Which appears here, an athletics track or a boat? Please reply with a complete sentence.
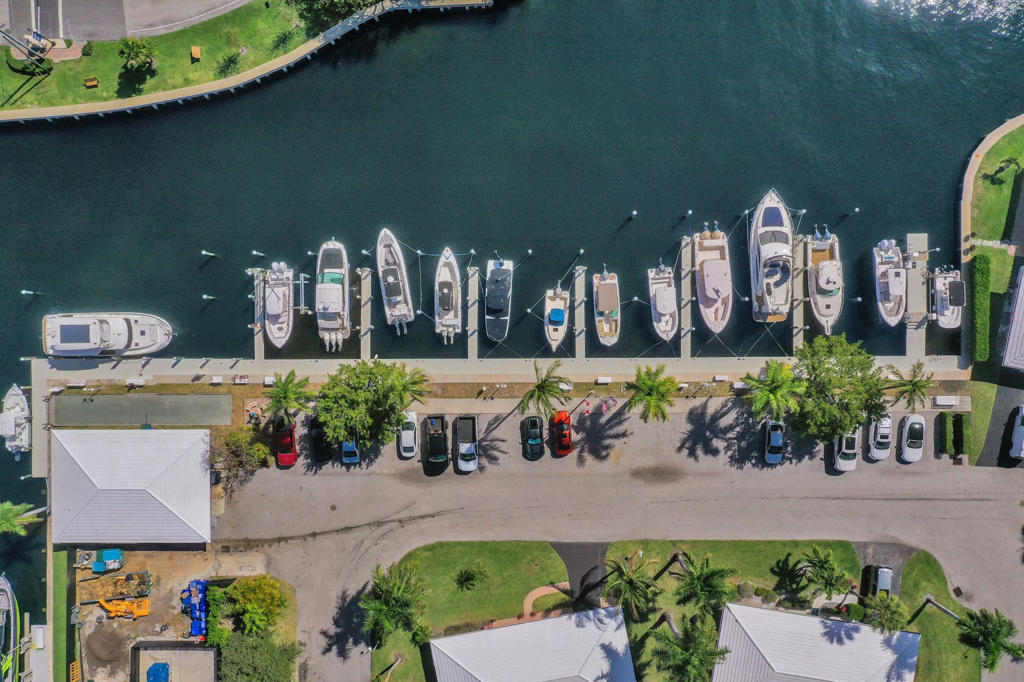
I can see a boat in this picture.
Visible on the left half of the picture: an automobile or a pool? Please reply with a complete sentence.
Visible on the left half of the picture is an automobile.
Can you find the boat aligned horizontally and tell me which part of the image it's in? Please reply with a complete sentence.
Look in the left portion of the view to spot the boat aligned horizontally.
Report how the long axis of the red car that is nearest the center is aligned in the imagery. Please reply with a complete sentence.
I'd say the red car that is nearest the center is aligned up and down in the picture.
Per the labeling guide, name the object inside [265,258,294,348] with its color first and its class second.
white boat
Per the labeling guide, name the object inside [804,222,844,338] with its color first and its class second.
white boat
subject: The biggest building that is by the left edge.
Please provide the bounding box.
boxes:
[50,428,213,545]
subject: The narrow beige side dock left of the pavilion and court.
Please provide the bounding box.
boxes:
[31,359,48,476]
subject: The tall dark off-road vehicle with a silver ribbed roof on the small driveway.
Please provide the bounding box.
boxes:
[866,556,893,598]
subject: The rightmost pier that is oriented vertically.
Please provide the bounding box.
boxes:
[905,234,928,358]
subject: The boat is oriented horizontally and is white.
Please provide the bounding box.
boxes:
[45,314,179,357]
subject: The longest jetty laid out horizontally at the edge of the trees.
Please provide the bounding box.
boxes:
[47,358,971,380]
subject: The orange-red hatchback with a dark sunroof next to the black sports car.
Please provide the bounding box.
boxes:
[551,409,574,456]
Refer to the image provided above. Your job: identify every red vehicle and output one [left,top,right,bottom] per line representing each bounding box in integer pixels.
[273,421,298,468]
[551,409,574,456]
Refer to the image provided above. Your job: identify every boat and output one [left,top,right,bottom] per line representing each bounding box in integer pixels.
[747,188,794,323]
[931,260,966,329]
[694,216,732,335]
[316,235,351,351]
[870,236,906,327]
[485,250,512,341]
[45,314,179,357]
[804,222,844,338]
[435,247,461,347]
[378,229,412,338]
[0,574,21,682]
[544,276,569,352]
[0,385,31,466]
[593,261,621,347]
[648,253,677,342]
[265,258,294,348]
